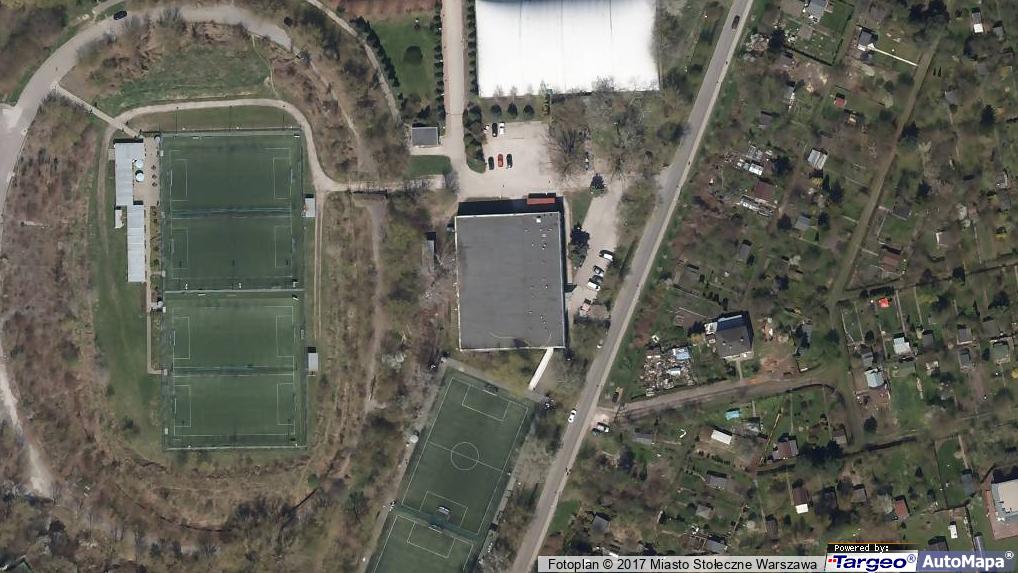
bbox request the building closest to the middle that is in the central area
[455,212,568,350]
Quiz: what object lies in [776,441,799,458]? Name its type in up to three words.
shed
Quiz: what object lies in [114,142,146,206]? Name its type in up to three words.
building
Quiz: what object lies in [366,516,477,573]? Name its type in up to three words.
soccer field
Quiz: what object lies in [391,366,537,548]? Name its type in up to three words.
soccer field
